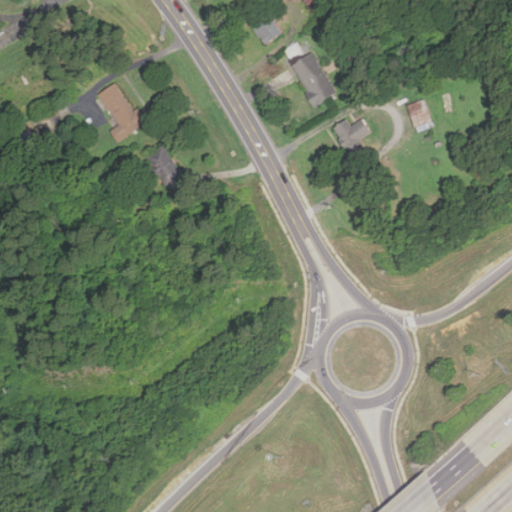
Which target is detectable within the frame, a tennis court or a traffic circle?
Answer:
traffic circle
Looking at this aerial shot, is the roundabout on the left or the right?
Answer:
right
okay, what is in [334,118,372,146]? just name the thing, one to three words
house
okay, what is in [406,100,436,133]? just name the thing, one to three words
barn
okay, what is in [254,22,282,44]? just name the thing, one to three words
shed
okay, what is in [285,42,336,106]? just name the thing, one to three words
house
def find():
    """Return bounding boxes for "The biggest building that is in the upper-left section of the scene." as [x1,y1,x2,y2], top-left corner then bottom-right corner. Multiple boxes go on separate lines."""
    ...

[95,84,140,142]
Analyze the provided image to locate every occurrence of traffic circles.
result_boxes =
[307,236,414,498]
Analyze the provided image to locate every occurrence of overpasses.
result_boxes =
[374,470,441,512]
